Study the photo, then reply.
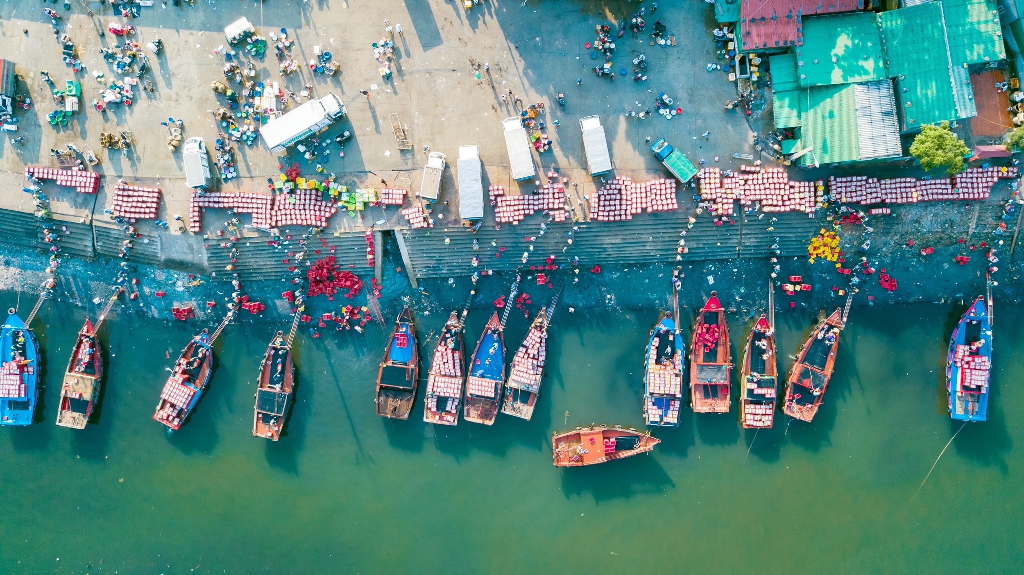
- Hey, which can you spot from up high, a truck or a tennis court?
truck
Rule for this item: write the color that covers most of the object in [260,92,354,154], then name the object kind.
white truck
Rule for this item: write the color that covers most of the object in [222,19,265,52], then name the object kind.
white vehicle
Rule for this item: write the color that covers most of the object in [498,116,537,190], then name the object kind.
white truck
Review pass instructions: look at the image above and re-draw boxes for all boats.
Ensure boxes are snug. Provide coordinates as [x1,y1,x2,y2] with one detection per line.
[0,307,48,426]
[687,289,732,413]
[500,303,555,421]
[54,316,106,432]
[150,325,215,433]
[423,309,468,427]
[462,309,509,426]
[780,303,846,424]
[551,423,663,468]
[250,328,296,442]
[735,310,778,429]
[374,303,421,421]
[942,292,993,421]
